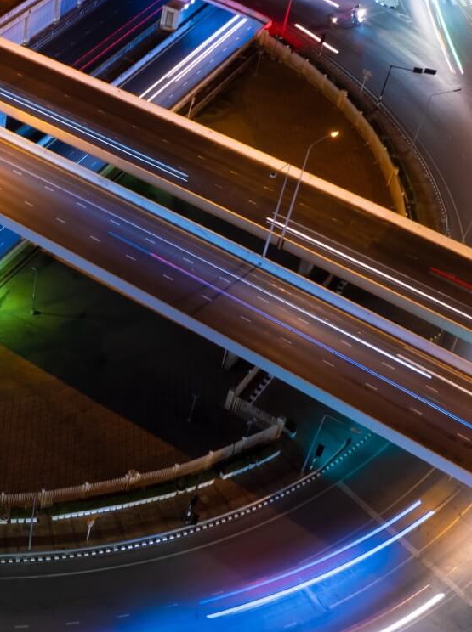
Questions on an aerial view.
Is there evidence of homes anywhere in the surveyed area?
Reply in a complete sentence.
No, there's no home here.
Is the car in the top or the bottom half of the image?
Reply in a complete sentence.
You can find the car in the top half.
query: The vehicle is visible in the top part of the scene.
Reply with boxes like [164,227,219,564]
[327,1,367,21]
